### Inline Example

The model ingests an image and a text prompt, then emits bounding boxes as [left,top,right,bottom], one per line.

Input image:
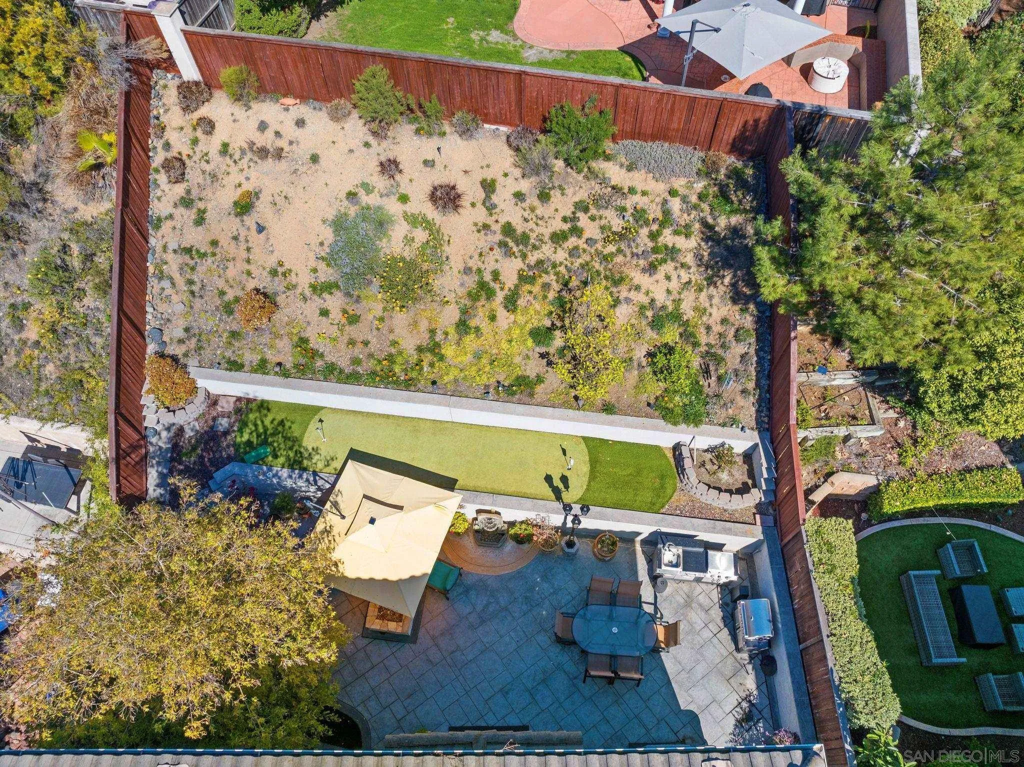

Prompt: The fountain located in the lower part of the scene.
[471,507,513,550]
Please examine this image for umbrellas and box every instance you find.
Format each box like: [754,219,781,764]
[654,0,833,139]
[293,459,462,618]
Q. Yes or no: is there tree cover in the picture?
Yes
